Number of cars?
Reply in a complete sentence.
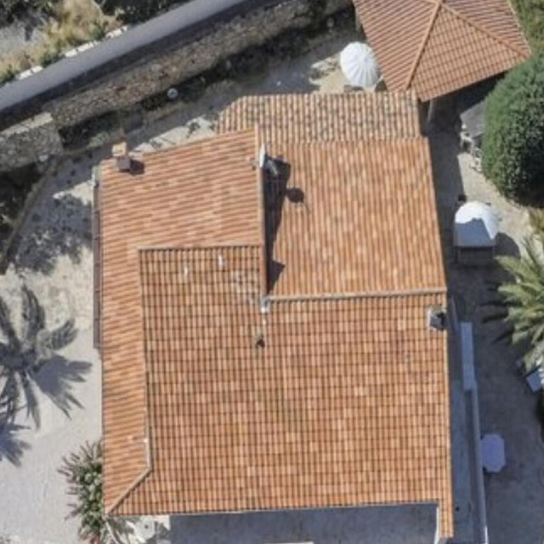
The picture shows no cars.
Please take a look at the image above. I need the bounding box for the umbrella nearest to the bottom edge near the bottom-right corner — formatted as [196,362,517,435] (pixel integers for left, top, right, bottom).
[477,437,509,470]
